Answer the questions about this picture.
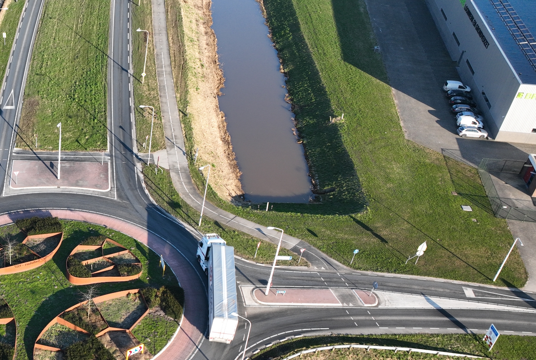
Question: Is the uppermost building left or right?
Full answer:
It is on the right.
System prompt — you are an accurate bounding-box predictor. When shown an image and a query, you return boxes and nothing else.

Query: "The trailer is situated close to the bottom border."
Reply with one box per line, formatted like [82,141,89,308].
[208,244,238,343]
